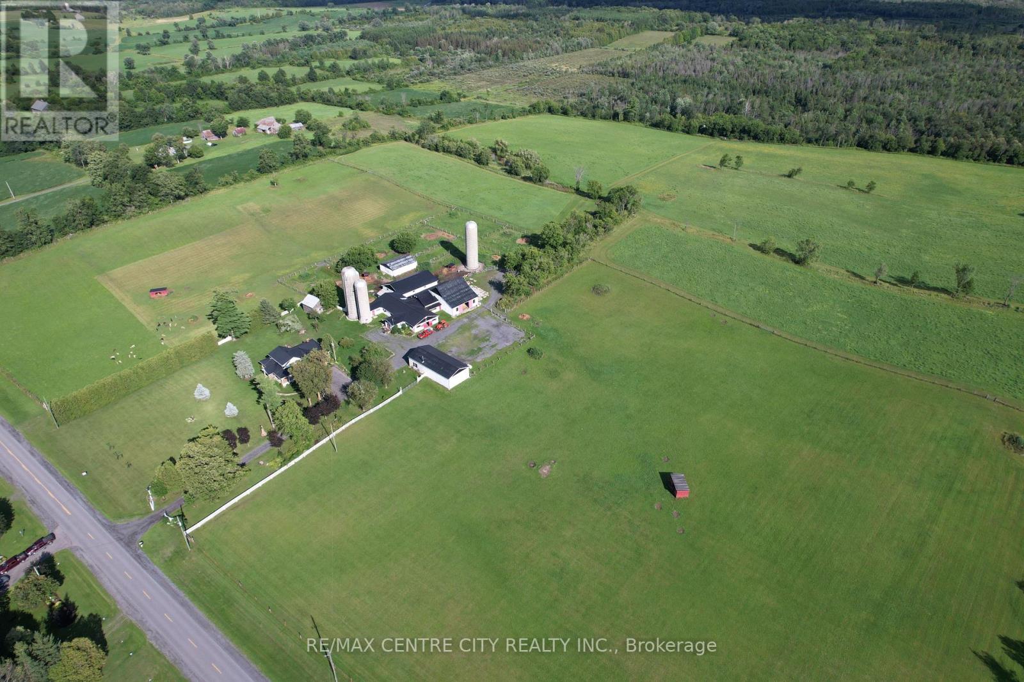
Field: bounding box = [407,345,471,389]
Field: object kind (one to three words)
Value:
building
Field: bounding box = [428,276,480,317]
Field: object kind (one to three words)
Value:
barn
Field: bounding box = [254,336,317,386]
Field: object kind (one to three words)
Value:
house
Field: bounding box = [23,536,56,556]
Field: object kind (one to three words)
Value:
vehicle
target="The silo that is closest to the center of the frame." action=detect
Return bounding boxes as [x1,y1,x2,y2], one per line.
[465,216,480,270]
